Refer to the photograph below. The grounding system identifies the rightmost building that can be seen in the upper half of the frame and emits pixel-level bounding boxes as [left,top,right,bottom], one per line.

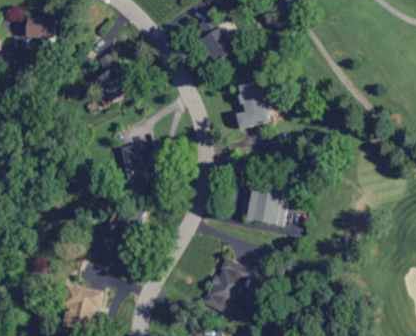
[238,82,272,130]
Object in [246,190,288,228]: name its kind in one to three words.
house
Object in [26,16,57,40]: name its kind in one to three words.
house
